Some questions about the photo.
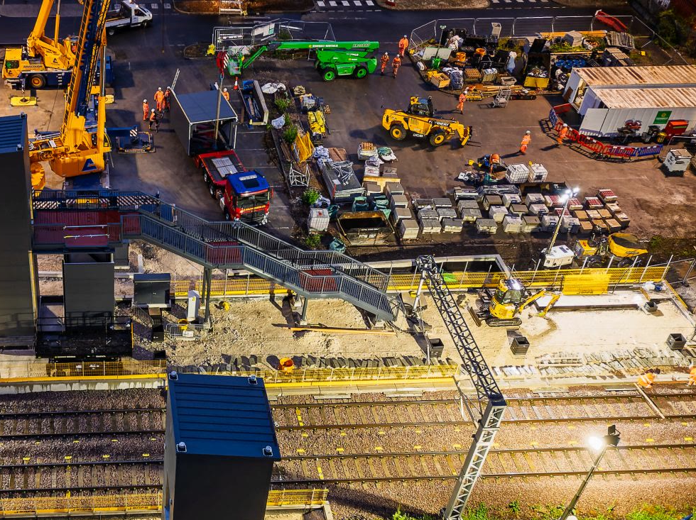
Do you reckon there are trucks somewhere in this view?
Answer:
Yes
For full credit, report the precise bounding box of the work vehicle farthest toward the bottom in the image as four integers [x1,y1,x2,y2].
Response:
[463,274,560,323]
